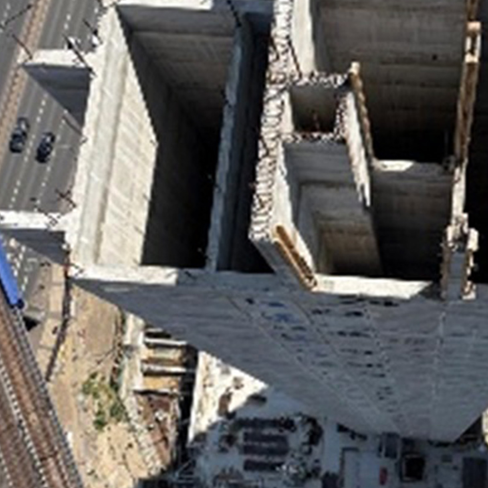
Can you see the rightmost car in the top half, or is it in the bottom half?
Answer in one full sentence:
You can find the rightmost car in the top half.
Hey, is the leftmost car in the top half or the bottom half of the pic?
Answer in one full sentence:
Seen from above, the leftmost car lies in the top half of the view.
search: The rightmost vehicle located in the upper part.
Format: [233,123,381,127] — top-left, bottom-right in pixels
[32,128,55,163]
